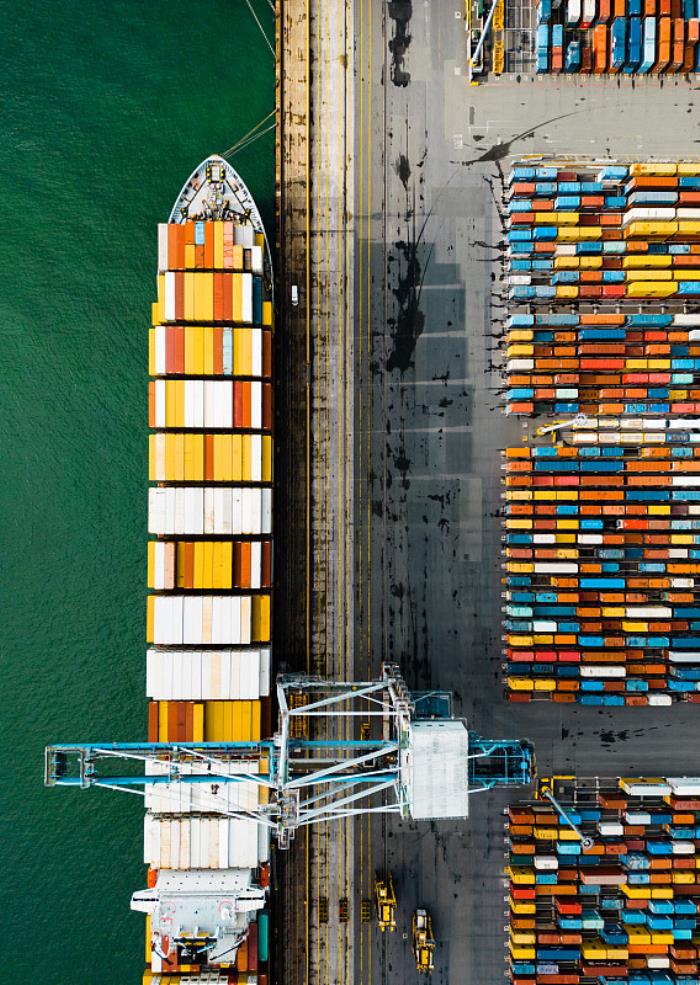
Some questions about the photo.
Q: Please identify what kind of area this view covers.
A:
port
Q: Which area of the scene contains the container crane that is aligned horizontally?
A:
bottom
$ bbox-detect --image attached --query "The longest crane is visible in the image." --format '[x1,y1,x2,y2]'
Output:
[43,646,540,849]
